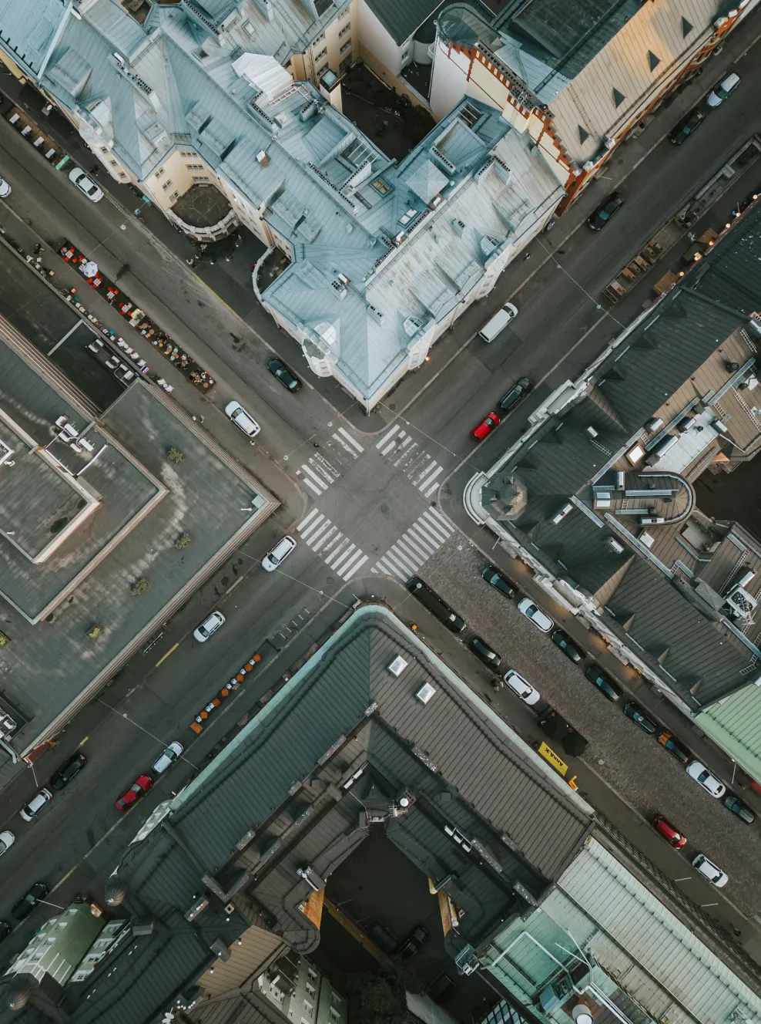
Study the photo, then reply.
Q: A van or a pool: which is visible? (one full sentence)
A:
There is a van in the scene.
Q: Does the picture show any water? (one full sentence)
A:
No, water can't be seen anywhere here.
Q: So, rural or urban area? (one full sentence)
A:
The area is urban.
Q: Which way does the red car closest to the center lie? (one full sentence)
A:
The red car closest to the center has been laid out at an angle relative to the frame.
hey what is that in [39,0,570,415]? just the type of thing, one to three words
building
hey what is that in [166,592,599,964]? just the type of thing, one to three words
building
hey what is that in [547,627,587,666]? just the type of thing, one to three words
car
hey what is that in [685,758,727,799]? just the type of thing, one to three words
car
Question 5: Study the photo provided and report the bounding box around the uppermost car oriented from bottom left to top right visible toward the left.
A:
[258,531,301,574]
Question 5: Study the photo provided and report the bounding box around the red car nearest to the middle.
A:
[469,410,502,443]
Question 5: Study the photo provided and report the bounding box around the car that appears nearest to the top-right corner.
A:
[702,69,745,113]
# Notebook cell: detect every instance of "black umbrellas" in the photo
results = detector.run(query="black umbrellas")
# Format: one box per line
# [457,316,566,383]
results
[558,728,590,759]
[539,710,573,744]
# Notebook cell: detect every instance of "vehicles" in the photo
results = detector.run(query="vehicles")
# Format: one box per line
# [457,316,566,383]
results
[666,105,709,149]
[620,697,661,737]
[654,727,694,766]
[478,561,522,604]
[476,301,520,346]
[499,665,543,707]
[649,812,689,851]
[49,746,93,791]
[494,375,534,416]
[403,574,469,636]
[222,397,266,441]
[514,595,557,636]
[258,531,301,574]
[685,758,727,799]
[146,737,188,779]
[720,789,759,827]
[702,69,745,113]
[469,410,502,443]
[112,771,155,814]
[362,914,402,957]
[547,627,587,666]
[687,847,731,890]
[581,661,626,704]
[394,919,435,963]
[8,878,52,923]
[16,782,57,824]
[467,634,503,670]
[65,163,107,208]
[264,353,306,395]
[190,605,229,645]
